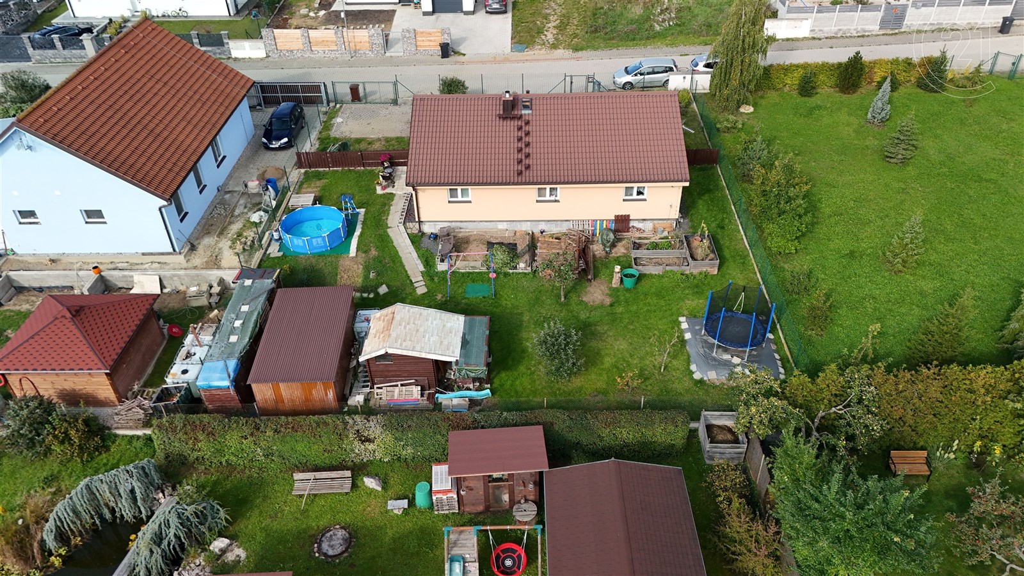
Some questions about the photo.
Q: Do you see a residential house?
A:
Yes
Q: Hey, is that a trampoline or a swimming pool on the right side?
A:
trampoline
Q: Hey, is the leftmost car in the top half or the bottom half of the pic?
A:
top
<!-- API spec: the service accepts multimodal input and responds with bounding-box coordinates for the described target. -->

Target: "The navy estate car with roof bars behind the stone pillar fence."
[26,16,90,38]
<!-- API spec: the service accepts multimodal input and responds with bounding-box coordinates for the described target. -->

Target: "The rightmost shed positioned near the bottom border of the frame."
[541,450,709,576]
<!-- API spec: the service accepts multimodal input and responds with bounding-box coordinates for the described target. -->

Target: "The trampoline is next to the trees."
[700,273,782,362]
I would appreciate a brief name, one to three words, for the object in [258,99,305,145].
car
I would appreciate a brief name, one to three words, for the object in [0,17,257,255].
house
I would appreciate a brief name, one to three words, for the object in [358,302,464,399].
shed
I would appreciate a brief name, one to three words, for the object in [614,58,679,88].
car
